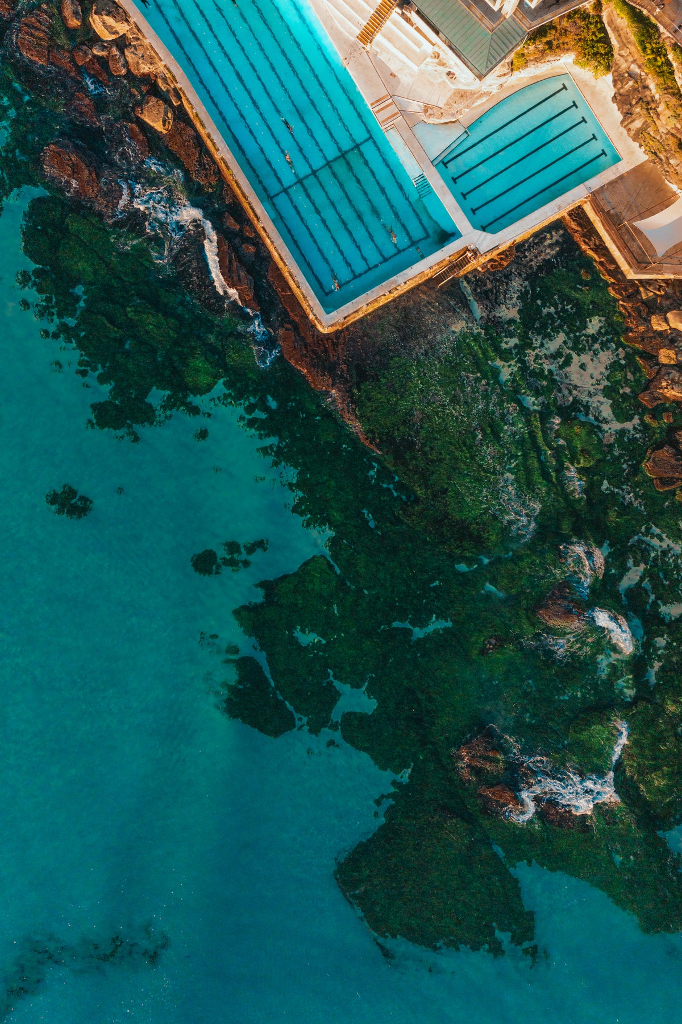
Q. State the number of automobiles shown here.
0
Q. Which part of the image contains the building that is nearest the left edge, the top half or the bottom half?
top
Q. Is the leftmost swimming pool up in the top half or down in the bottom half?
top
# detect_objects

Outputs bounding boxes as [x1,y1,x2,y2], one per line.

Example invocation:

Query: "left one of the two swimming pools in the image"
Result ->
[115,0,471,334]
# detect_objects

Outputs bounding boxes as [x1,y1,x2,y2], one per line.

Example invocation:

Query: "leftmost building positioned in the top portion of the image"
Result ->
[406,0,594,81]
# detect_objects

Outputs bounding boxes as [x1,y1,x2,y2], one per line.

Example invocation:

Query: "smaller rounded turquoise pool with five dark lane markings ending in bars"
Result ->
[398,59,648,261]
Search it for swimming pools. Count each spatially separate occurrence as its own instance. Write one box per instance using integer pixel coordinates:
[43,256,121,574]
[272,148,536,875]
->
[115,0,471,334]
[398,59,648,261]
